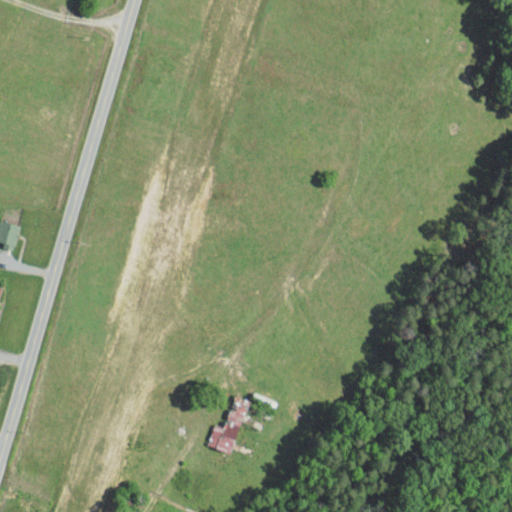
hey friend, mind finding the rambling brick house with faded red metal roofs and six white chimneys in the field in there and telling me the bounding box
[208,398,252,454]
